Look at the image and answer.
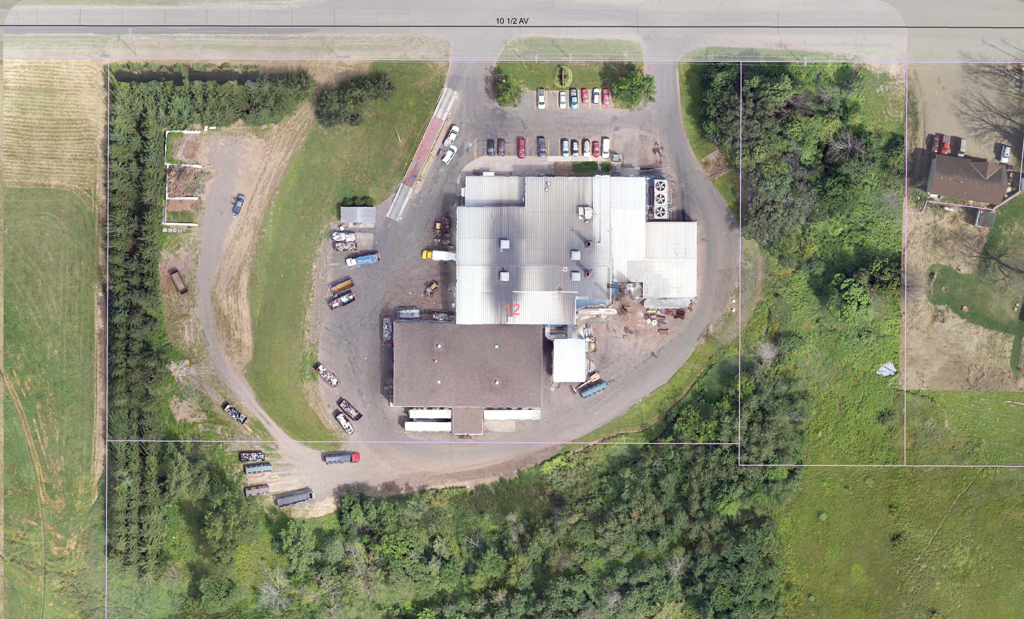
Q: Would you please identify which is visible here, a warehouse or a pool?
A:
warehouse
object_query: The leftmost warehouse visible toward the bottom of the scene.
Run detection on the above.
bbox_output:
[393,324,543,439]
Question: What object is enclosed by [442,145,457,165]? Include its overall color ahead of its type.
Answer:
white vehicle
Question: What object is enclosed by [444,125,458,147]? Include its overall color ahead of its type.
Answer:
white vehicle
